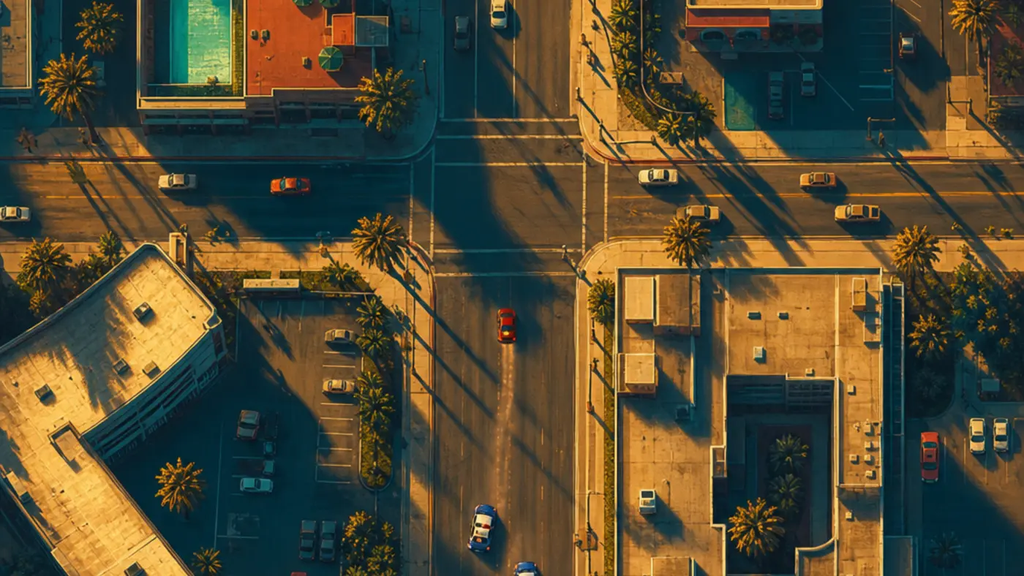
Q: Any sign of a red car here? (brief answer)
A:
Yes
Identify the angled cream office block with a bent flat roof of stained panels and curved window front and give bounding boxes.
[0,242,233,576]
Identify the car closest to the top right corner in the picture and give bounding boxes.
[899,33,917,57]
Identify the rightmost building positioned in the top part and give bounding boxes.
[682,0,825,59]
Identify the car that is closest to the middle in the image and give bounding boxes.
[498,308,516,345]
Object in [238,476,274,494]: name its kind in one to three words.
car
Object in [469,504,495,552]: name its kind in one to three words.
car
